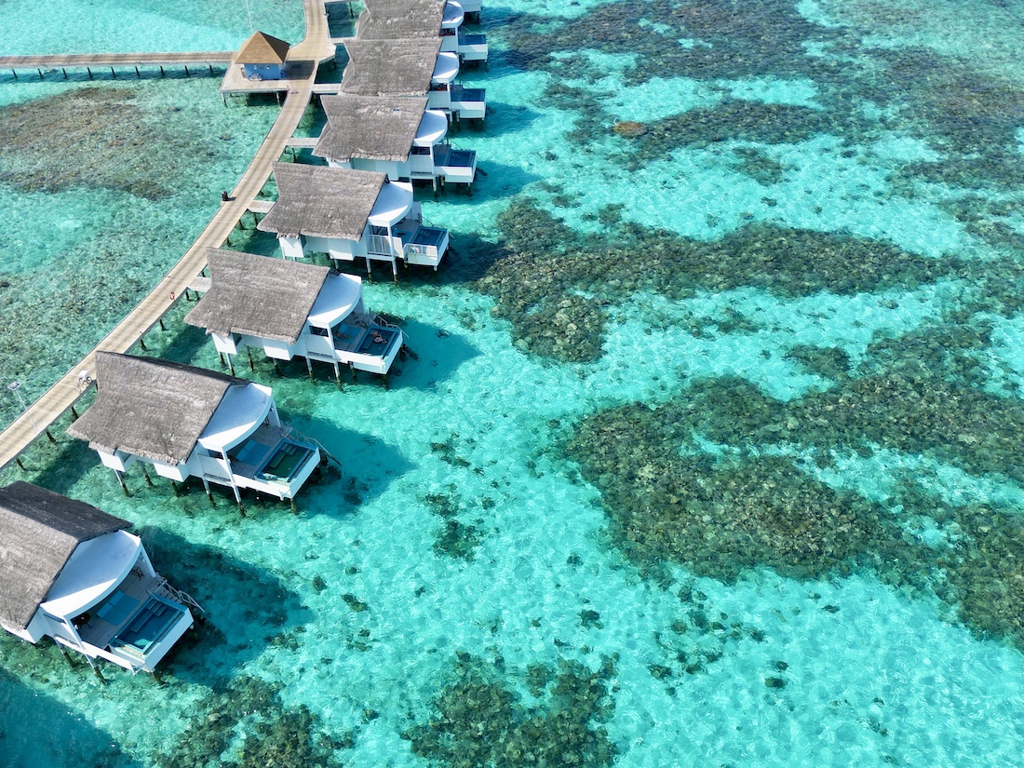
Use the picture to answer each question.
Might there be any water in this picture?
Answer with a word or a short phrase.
Yes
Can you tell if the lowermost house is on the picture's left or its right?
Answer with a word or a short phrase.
left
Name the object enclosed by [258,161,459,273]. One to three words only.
house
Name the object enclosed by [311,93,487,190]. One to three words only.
house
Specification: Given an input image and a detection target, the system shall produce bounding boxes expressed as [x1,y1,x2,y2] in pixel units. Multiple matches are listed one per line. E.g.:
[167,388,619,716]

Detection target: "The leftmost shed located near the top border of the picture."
[236,32,292,79]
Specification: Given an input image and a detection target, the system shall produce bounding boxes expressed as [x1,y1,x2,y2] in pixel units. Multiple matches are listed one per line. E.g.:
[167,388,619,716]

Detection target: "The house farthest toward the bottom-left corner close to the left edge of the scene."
[0,476,216,677]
